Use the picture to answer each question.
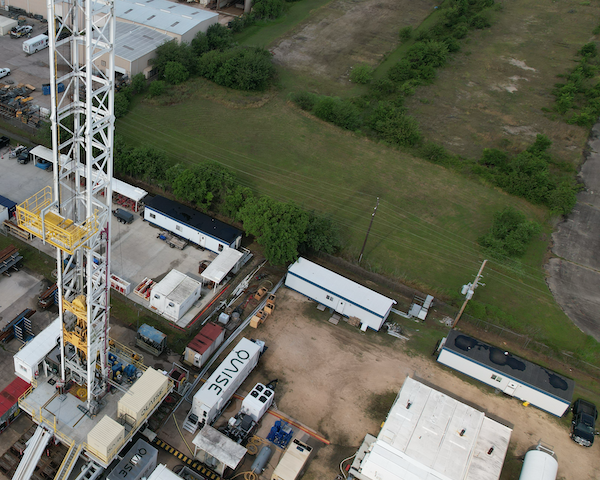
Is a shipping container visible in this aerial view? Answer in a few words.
Yes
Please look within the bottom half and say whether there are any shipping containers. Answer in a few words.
Yes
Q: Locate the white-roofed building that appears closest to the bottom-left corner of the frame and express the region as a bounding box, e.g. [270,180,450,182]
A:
[14,305,77,390]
